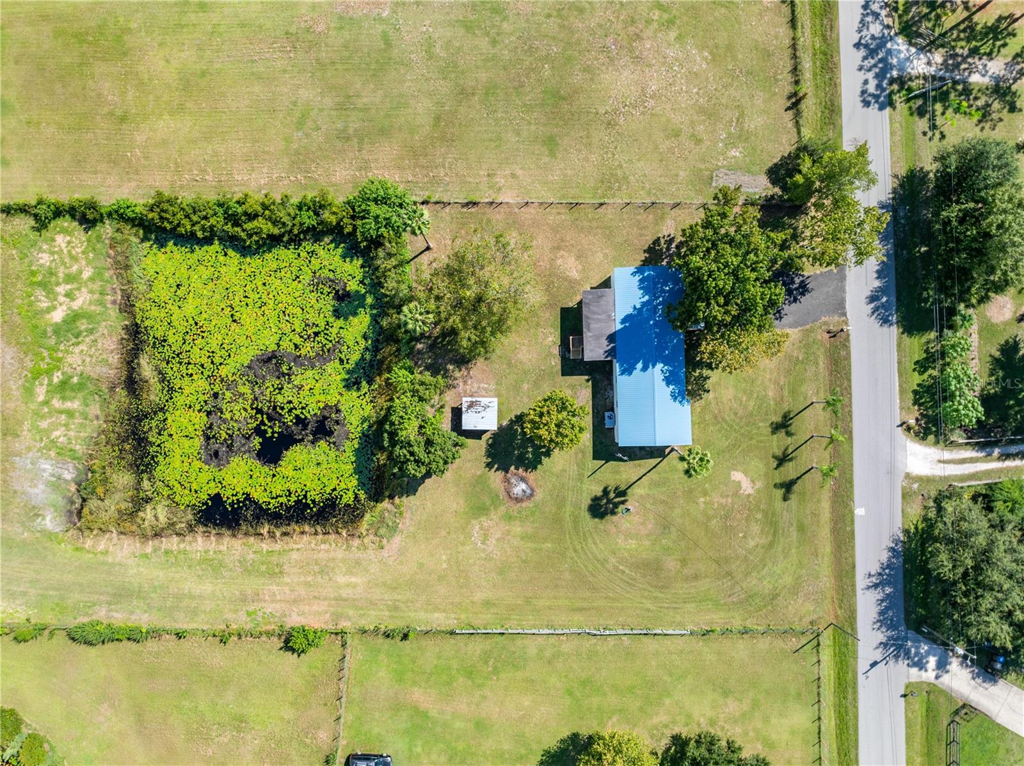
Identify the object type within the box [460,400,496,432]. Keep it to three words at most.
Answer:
shed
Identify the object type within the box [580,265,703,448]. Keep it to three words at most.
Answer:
house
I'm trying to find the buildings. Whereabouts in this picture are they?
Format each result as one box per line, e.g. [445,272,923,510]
[580,265,703,448]
[460,400,496,432]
